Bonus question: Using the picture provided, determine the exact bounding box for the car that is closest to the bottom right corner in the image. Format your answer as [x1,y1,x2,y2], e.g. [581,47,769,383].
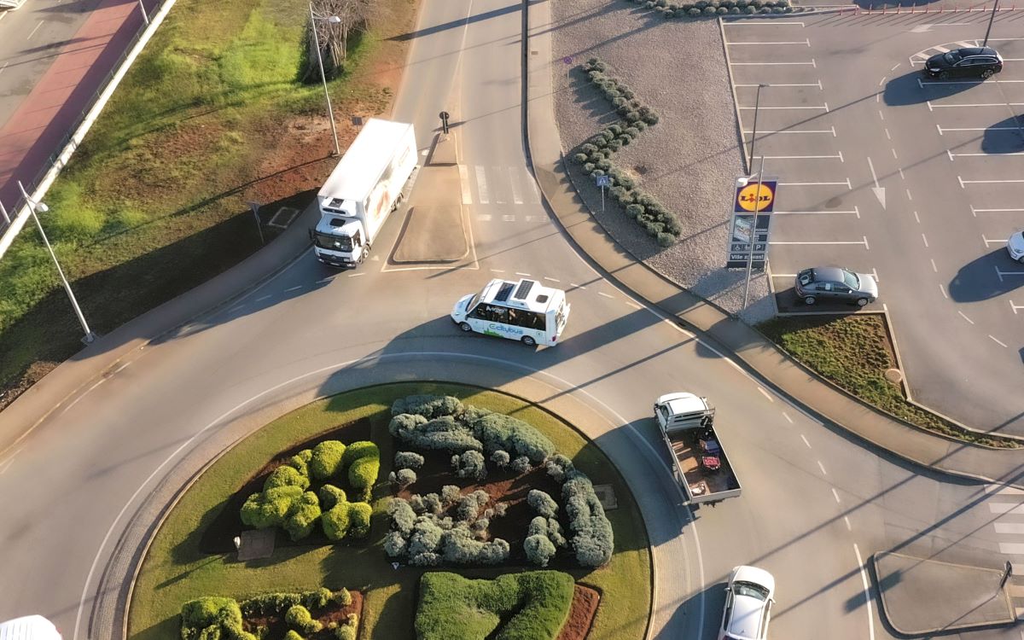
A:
[719,570,778,640]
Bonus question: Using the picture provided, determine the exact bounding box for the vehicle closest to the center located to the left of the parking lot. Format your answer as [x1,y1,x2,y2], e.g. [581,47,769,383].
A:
[449,275,573,347]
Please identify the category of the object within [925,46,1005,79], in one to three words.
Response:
car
